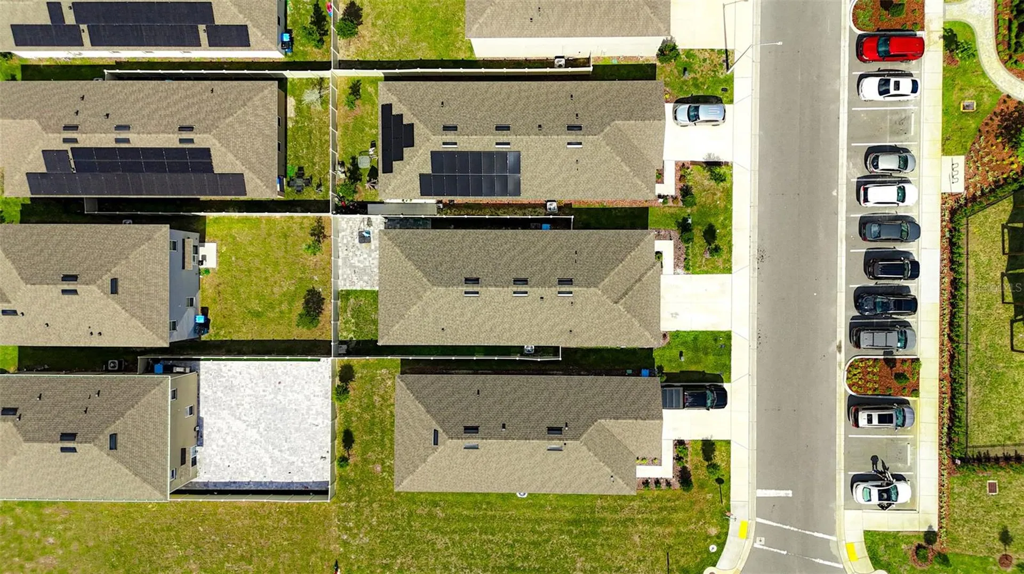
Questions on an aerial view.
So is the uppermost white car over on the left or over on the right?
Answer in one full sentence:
You can find the uppermost white car on the right side of the picture.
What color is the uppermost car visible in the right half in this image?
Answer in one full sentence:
The color of the uppermost car visible in the right half is red.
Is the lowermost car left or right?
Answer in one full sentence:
You can find the lowermost car on the right side of the picture.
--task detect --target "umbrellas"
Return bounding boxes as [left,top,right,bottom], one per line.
[364,168,378,190]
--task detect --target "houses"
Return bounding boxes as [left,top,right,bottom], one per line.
[465,0,671,56]
[378,229,662,348]
[0,223,200,348]
[0,80,285,198]
[0,371,202,503]
[0,0,286,57]
[394,375,667,494]
[378,80,669,200]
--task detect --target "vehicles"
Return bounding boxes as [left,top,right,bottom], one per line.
[860,217,918,246]
[849,402,913,432]
[857,32,924,64]
[866,148,913,176]
[664,383,727,415]
[673,99,725,128]
[852,468,909,514]
[857,73,916,102]
[866,255,918,284]
[856,290,915,320]
[859,180,916,209]
[851,324,915,354]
